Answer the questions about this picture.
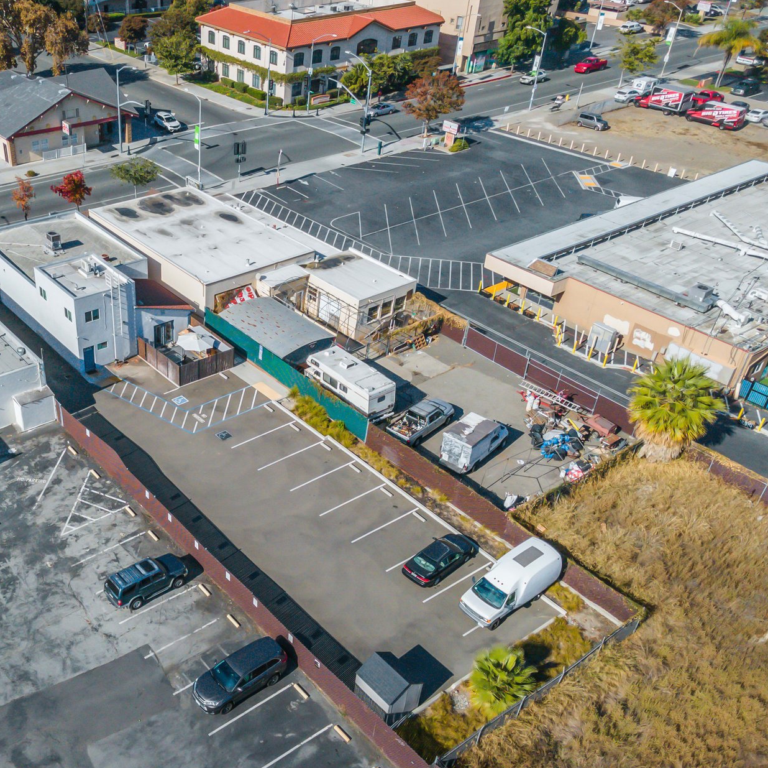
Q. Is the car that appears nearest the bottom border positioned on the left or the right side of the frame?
left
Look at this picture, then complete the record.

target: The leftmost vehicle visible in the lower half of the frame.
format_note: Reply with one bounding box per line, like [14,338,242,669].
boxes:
[103,550,195,612]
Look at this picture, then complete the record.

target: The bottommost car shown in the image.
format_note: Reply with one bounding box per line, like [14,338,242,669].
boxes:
[185,634,291,719]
